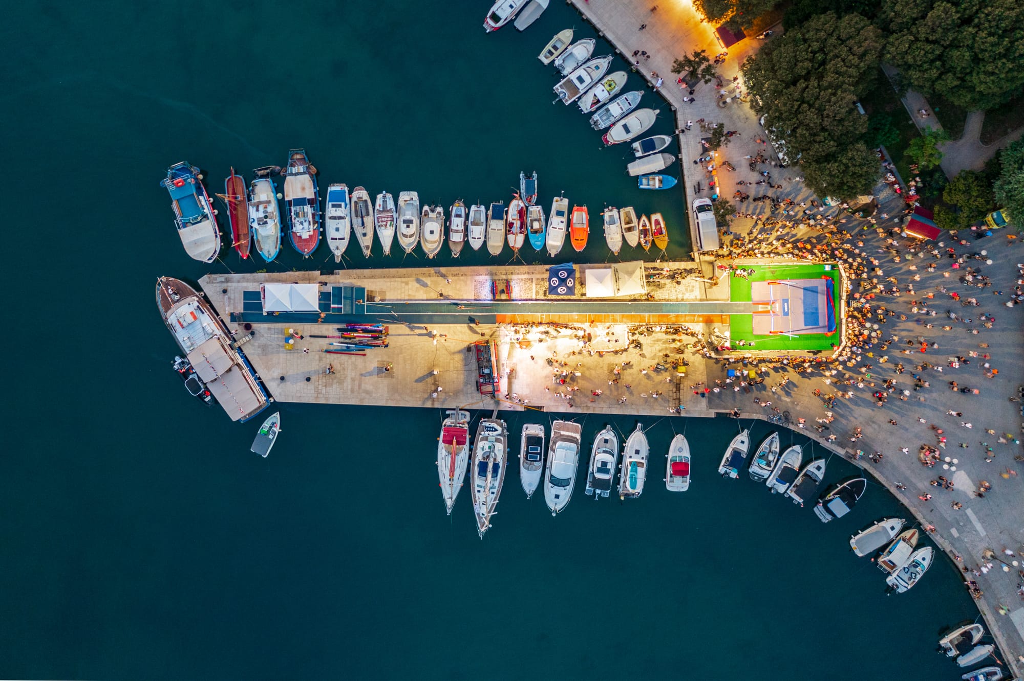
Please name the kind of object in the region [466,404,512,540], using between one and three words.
boat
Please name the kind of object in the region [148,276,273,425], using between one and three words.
ship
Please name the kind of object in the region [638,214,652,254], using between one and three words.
boat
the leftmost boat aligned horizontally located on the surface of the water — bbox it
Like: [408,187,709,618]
[251,163,282,175]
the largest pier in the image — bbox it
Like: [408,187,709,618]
[198,261,730,415]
